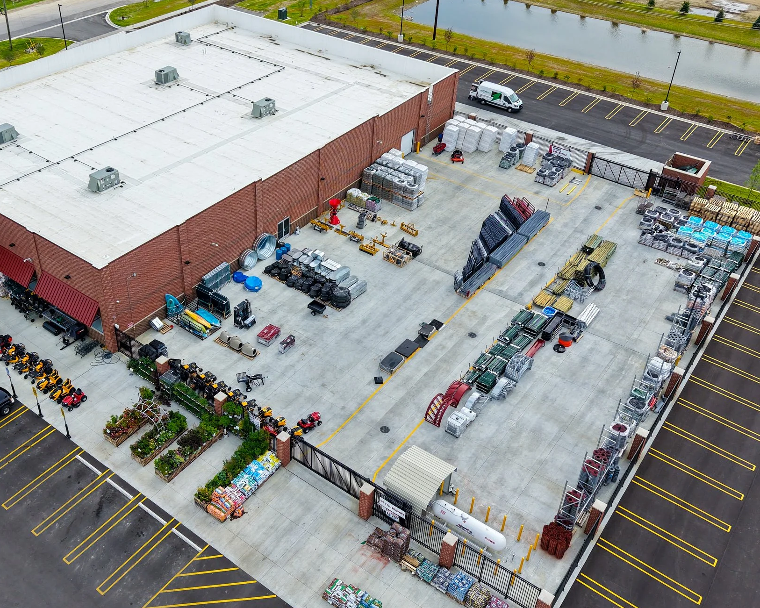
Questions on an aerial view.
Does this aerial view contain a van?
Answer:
Yes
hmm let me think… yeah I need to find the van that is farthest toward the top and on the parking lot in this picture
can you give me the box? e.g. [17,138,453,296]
[462,74,519,111]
